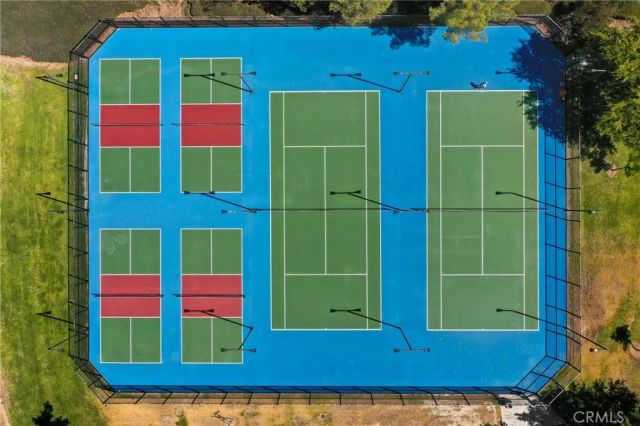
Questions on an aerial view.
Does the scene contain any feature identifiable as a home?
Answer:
No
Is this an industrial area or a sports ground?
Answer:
sports ground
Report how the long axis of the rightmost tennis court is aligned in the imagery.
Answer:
from top to bottom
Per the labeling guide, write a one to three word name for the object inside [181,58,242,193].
sports court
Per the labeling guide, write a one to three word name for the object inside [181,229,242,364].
sports court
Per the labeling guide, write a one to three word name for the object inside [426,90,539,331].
tennis court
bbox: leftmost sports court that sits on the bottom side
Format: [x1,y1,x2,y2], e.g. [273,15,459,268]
[100,229,161,363]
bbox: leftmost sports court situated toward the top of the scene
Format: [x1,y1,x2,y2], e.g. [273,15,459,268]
[99,58,161,193]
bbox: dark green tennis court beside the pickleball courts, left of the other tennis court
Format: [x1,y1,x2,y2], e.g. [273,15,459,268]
[270,91,381,330]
